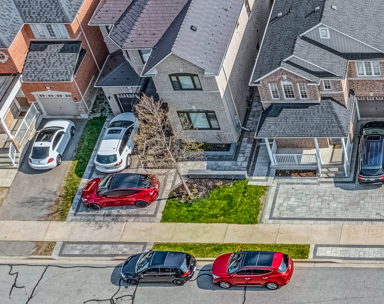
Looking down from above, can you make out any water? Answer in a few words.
No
